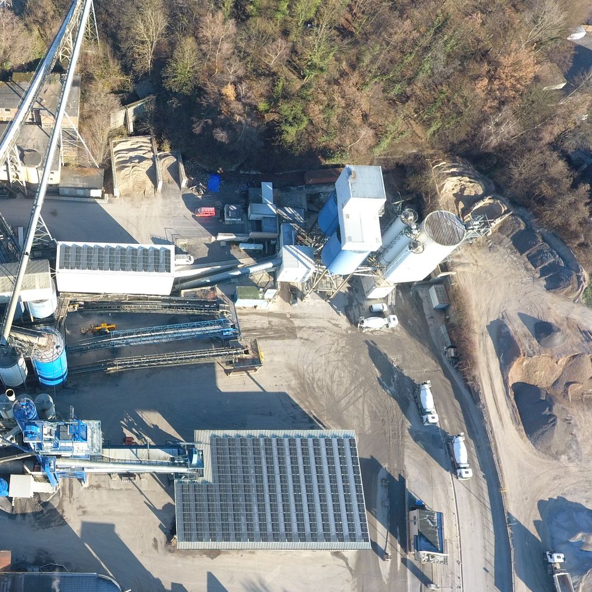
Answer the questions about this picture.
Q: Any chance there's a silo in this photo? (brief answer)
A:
Yes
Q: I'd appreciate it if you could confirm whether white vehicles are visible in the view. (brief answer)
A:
Yes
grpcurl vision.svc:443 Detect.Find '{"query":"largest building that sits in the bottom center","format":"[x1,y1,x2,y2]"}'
[173,431,372,551]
